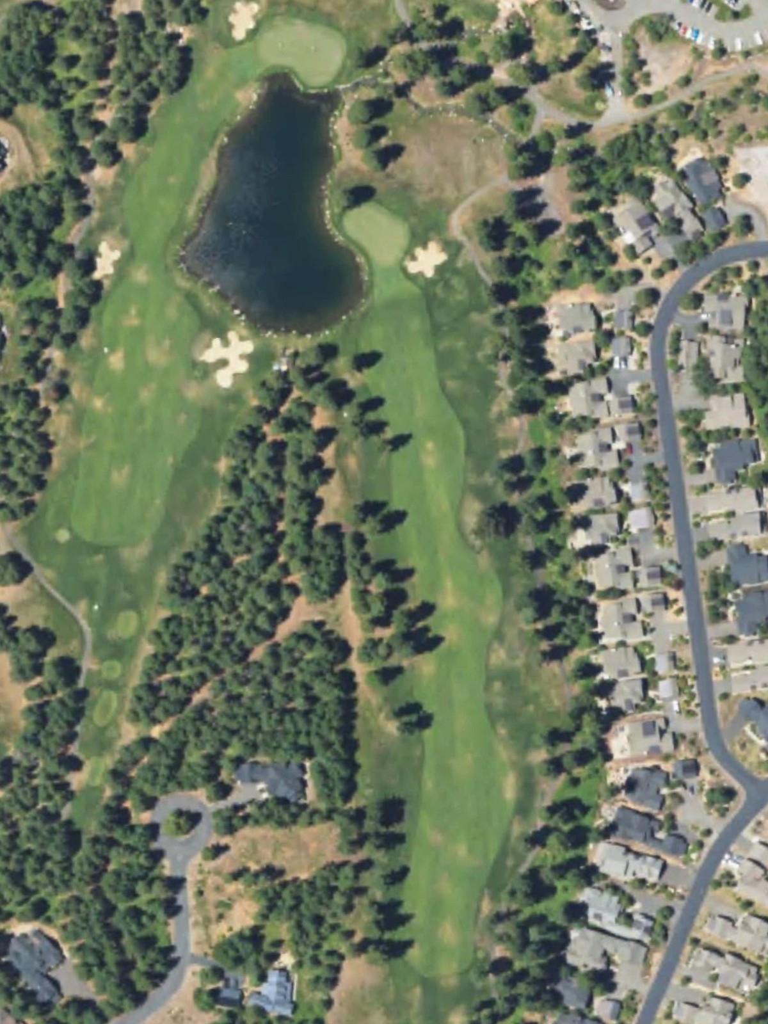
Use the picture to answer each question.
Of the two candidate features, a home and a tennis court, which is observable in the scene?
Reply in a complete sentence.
Visible in the photo is a home.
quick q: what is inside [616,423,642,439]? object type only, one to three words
house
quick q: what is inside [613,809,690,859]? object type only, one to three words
house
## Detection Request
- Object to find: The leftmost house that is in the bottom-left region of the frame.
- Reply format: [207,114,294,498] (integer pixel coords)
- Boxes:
[4,927,61,1005]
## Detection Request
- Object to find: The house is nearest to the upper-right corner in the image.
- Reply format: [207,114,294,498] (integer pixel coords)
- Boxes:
[683,157,723,204]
